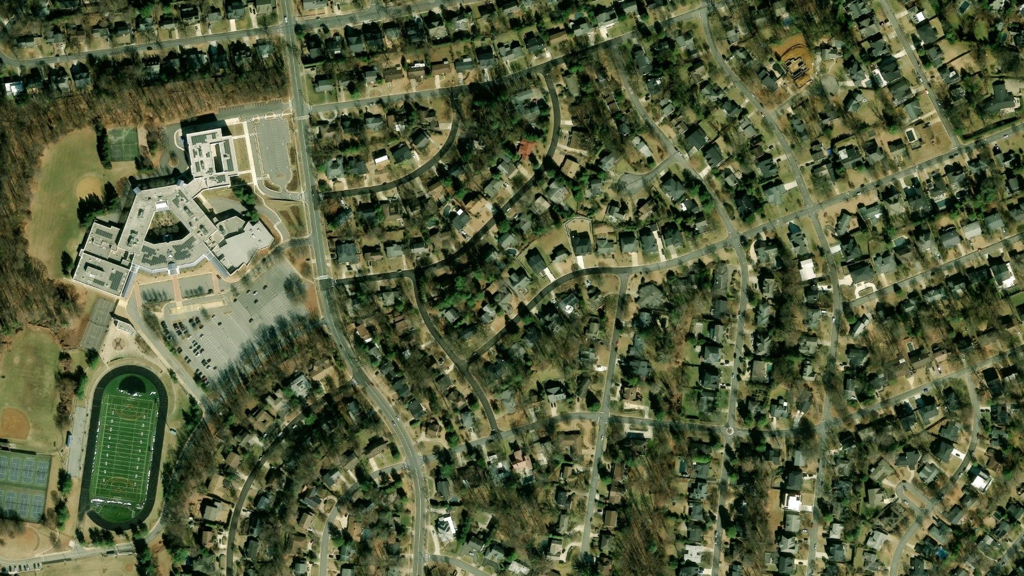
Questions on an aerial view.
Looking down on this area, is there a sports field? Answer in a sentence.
Yes, there's a sports field here.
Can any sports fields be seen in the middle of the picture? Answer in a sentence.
No, the scene shows no sports field in the middle of the picture.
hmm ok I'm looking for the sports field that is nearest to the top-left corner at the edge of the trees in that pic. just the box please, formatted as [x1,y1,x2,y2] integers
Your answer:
[26,128,137,282]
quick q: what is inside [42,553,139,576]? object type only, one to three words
sports field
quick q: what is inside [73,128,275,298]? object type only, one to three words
building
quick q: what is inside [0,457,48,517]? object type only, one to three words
tennis court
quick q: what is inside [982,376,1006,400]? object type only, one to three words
house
